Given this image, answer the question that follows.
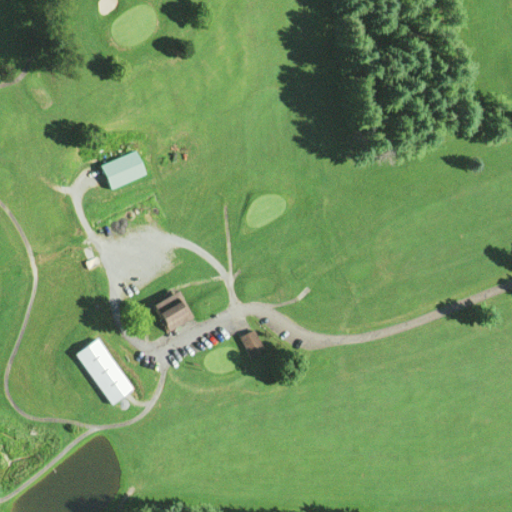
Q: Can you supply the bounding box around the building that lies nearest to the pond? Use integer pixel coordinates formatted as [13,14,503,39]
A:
[77,338,135,405]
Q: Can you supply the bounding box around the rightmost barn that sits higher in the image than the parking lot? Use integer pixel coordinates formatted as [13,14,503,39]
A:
[102,150,146,190]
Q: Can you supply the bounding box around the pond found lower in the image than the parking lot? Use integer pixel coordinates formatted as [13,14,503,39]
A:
[13,437,121,512]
